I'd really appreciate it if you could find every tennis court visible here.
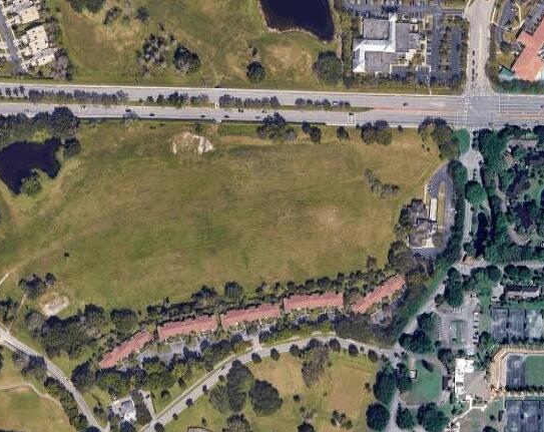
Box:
[505,400,523,432]
[506,355,524,389]
[491,309,509,340]
[525,310,544,340]
[525,355,544,388]
[509,309,526,340]
[522,400,539,432]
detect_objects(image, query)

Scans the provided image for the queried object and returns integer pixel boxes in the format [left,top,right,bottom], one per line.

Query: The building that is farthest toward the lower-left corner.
[112,401,134,421]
